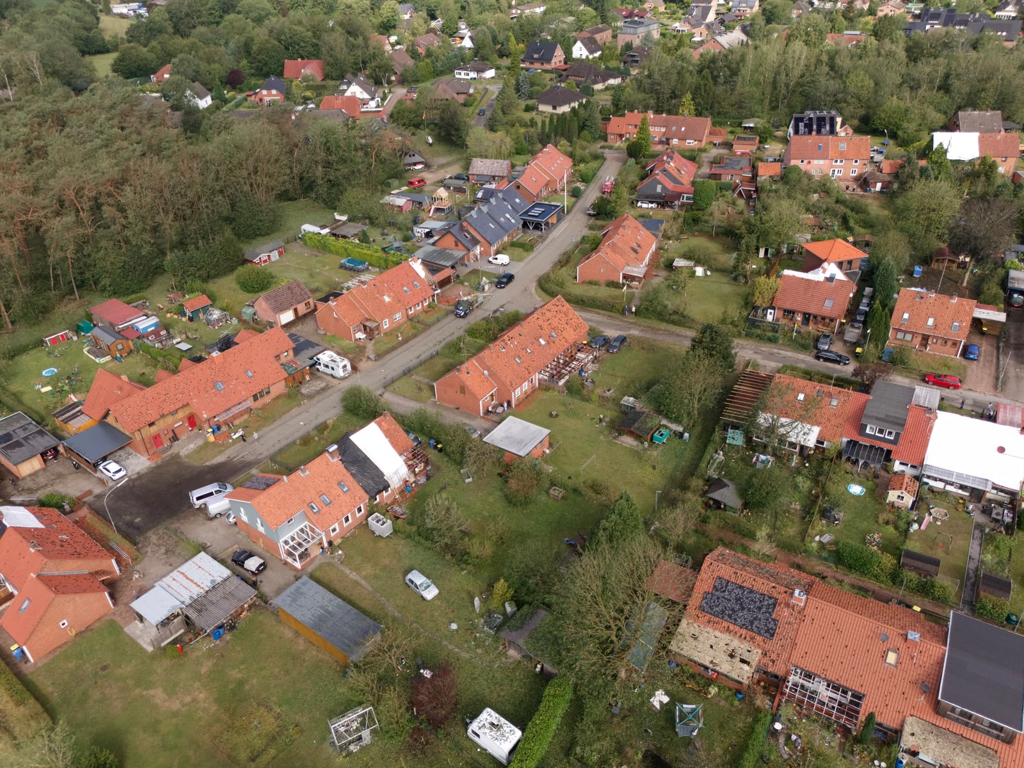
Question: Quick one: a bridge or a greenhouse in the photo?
greenhouse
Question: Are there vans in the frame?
Yes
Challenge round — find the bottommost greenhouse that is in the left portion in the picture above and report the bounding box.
[325,708,381,765]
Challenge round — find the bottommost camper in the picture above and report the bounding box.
[463,697,525,768]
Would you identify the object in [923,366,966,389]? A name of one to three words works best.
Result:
car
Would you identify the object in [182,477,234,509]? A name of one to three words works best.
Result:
van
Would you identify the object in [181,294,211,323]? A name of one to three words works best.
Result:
shed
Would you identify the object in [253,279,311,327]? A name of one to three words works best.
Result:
building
